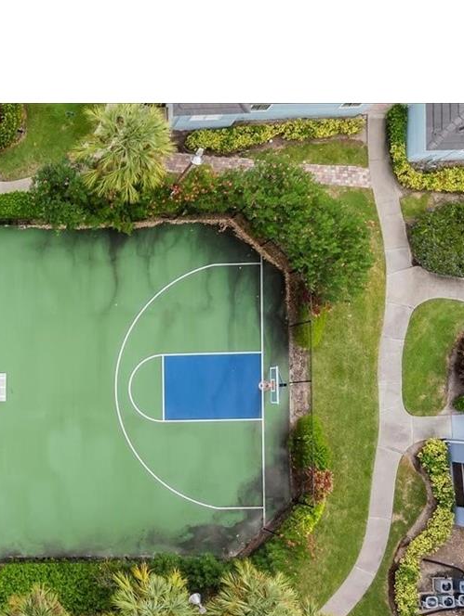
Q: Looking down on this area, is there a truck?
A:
No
